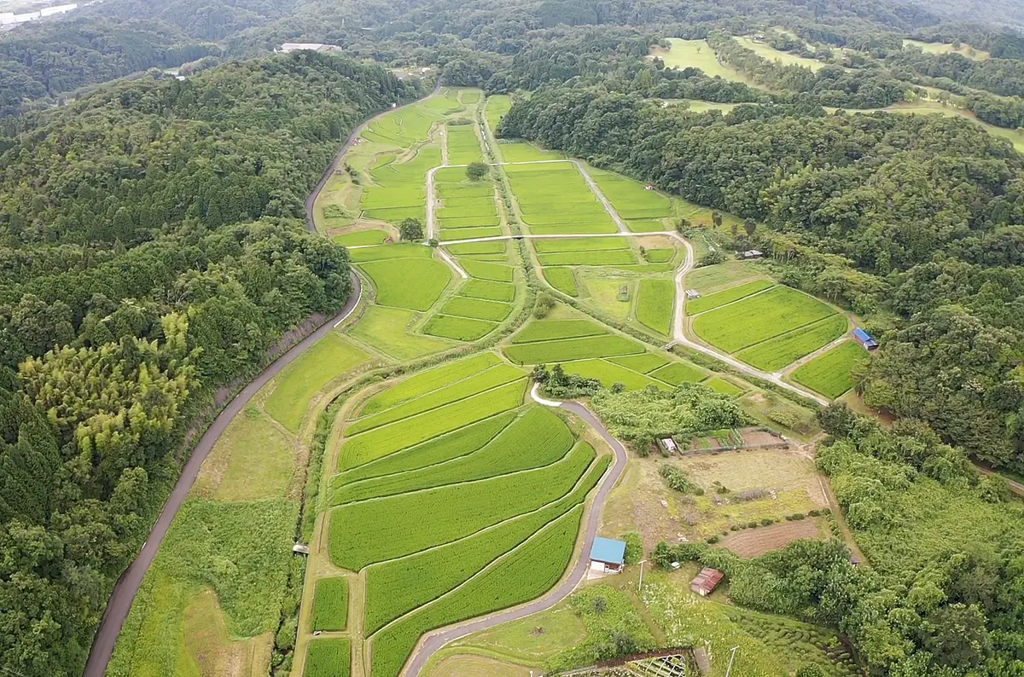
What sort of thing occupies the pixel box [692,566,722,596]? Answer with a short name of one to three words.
shed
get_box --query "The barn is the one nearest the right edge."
[849,327,879,353]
